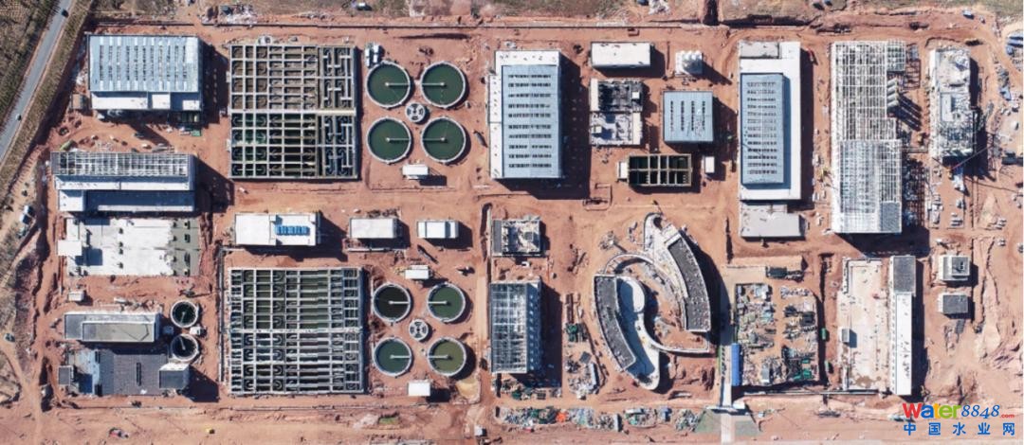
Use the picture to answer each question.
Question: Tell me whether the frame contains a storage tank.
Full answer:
Yes, the frame does contain a storage tank.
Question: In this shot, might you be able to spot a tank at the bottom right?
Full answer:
No, I see no tank at the bottom right.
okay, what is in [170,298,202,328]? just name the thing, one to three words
storage tank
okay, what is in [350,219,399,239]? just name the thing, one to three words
shed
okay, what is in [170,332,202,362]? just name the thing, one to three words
storage tank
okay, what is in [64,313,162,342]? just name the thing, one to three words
building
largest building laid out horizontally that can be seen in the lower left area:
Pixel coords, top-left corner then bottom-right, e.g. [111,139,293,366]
[69,349,178,395]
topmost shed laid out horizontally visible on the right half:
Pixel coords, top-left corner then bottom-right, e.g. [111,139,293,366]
[591,43,651,69]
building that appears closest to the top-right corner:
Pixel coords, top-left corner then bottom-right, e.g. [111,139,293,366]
[922,50,977,154]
